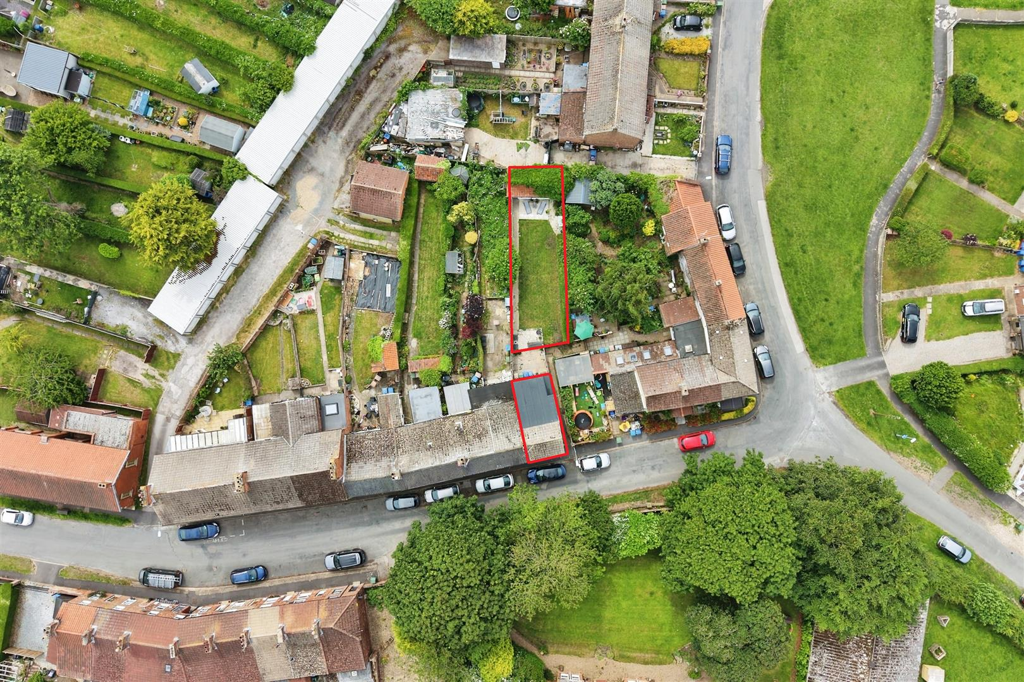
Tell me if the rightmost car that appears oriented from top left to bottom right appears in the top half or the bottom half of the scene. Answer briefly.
bottom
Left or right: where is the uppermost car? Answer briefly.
right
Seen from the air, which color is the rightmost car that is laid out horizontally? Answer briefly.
white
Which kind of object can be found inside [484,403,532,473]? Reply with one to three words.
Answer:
house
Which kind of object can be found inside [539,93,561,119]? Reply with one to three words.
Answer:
shed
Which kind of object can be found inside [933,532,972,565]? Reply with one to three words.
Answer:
car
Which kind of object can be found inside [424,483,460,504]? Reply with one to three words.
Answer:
car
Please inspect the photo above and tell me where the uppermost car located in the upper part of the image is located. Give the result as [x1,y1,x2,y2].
[671,13,702,33]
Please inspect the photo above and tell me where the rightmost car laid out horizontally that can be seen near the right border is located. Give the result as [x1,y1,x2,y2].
[959,298,1009,318]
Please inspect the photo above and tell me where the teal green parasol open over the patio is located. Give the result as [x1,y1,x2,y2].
[573,318,594,339]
